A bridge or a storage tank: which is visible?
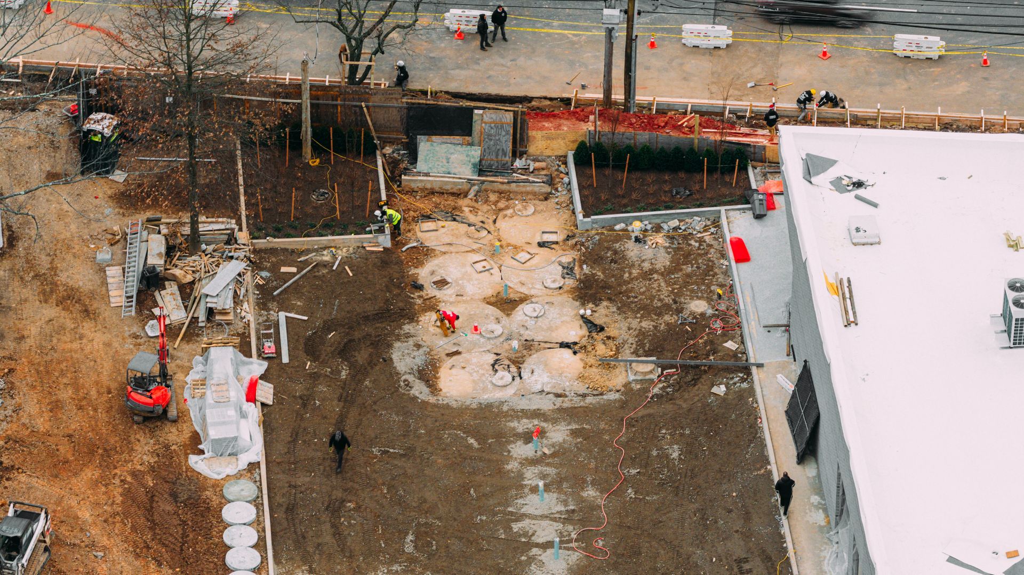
storage tank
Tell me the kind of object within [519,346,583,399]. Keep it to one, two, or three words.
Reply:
storage tank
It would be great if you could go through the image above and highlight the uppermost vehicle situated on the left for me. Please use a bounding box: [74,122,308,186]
[123,308,183,425]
